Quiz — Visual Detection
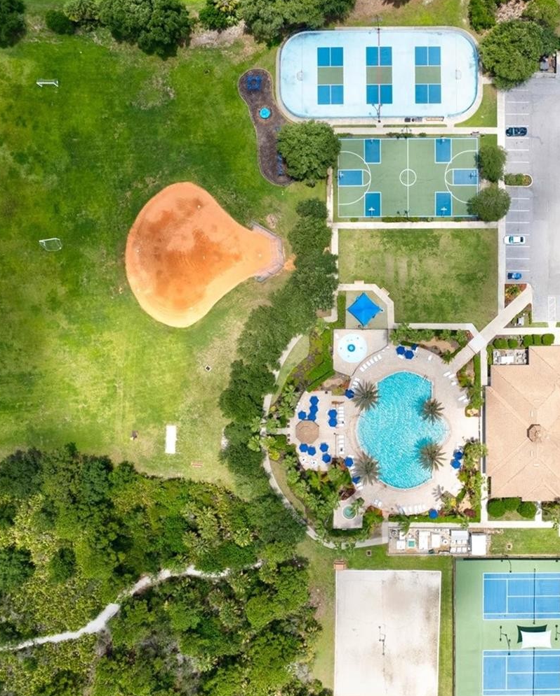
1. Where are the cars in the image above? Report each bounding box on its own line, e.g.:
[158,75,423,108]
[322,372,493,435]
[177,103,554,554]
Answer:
[504,235,525,244]
[506,127,527,136]
[507,272,522,279]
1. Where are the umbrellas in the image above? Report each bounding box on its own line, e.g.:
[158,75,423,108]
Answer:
[395,345,404,355]
[427,508,438,519]
[344,456,354,467]
[307,445,317,455]
[352,474,362,484]
[319,442,329,452]
[450,459,460,468]
[299,443,309,452]
[345,388,355,398]
[322,453,332,463]
[297,409,308,420]
[309,404,319,413]
[328,418,339,427]
[328,409,339,418]
[308,411,317,420]
[404,349,414,360]
[453,450,462,460]
[310,395,319,404]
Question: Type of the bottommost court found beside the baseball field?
basketball court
